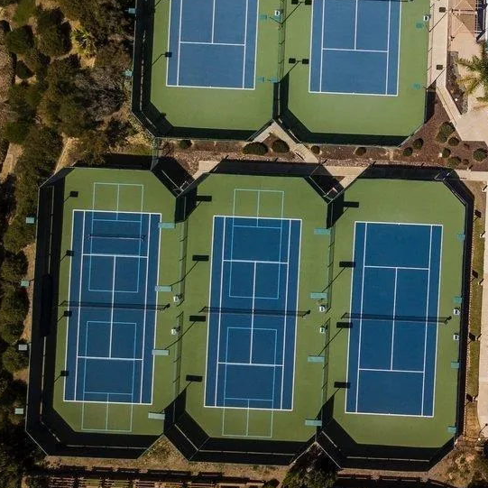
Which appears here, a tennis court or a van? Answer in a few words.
tennis court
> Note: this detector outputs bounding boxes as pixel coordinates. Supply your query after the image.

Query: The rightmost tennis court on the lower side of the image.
[321,178,465,459]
